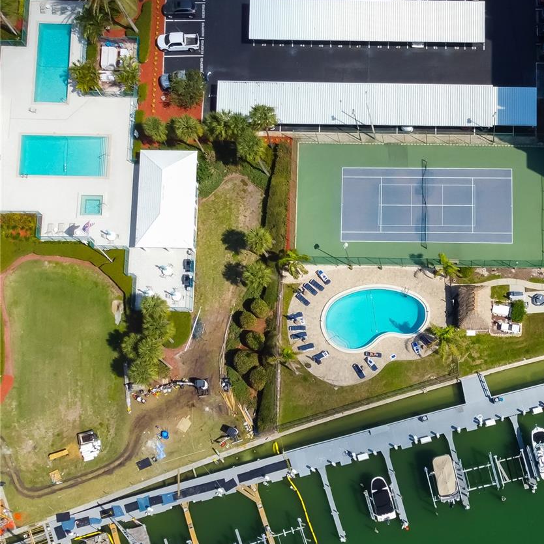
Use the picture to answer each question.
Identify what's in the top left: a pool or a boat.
pool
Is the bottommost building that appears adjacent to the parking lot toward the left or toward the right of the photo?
left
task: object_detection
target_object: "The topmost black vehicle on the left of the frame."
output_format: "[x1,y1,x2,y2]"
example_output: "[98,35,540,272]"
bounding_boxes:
[162,0,197,17]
